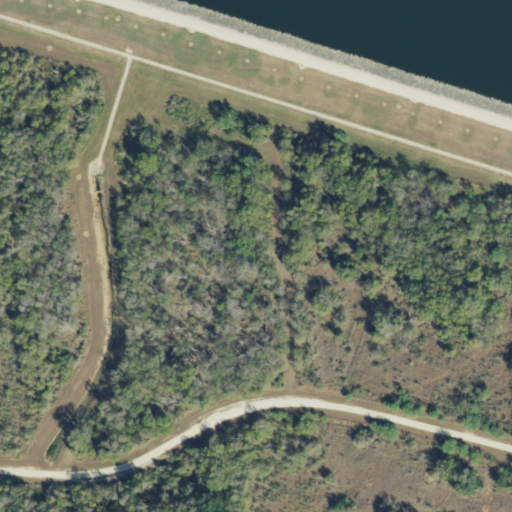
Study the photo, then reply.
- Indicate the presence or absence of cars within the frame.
No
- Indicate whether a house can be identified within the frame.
No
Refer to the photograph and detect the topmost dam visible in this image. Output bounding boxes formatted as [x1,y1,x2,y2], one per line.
[0,0,512,166]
